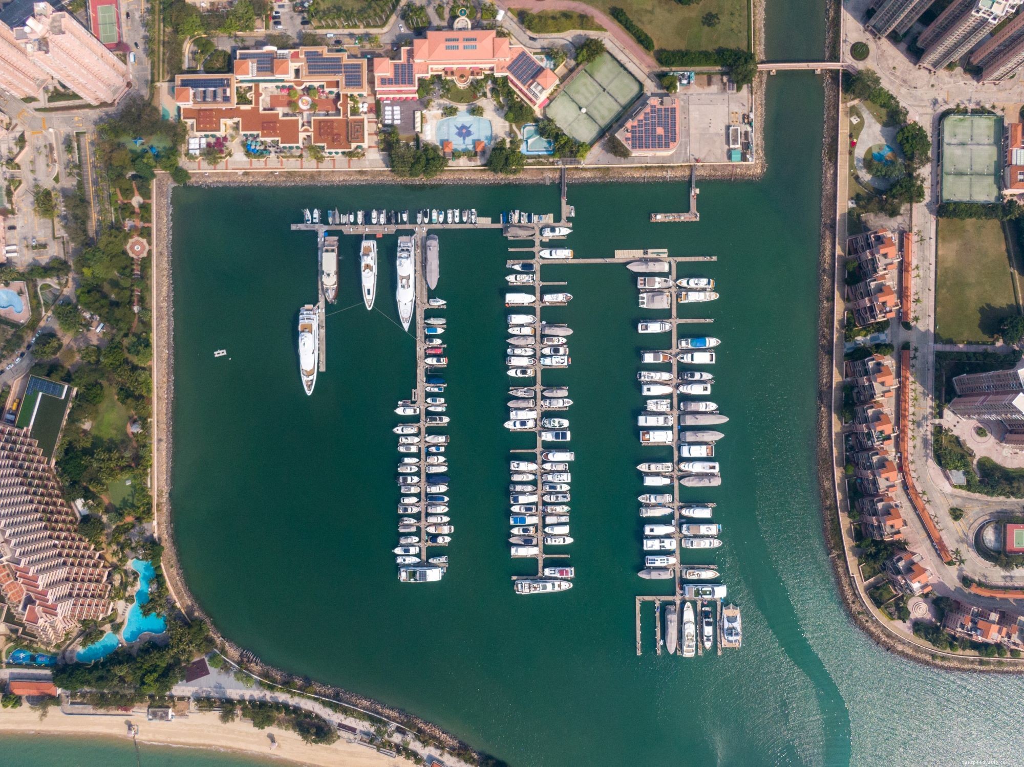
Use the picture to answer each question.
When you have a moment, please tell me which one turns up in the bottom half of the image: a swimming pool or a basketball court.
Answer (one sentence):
It is a swimming pool that can be seen in the bottom half of the image.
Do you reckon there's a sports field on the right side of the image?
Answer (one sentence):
Yes, I can see a sports field on the right side of the image.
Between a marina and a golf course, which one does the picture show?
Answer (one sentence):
The area seen from above is a marina.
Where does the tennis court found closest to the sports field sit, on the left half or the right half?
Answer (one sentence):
You can find the tennis court found closest to the sports field on the right side of the picture.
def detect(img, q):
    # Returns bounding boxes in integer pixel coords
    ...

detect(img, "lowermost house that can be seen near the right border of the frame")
[949,608,1024,653]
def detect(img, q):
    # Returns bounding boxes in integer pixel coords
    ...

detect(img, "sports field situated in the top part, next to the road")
[935,215,1017,342]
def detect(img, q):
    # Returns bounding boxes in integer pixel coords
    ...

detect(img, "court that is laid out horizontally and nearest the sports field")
[942,174,1003,201]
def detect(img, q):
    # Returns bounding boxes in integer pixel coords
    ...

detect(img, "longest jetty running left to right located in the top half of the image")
[291,197,572,234]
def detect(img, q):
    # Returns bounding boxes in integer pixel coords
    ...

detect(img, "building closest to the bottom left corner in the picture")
[9,679,60,697]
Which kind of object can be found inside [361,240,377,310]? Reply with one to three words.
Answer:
boat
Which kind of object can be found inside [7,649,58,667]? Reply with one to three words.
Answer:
swimming pool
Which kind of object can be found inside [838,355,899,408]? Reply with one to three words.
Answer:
house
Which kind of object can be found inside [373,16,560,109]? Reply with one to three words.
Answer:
building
